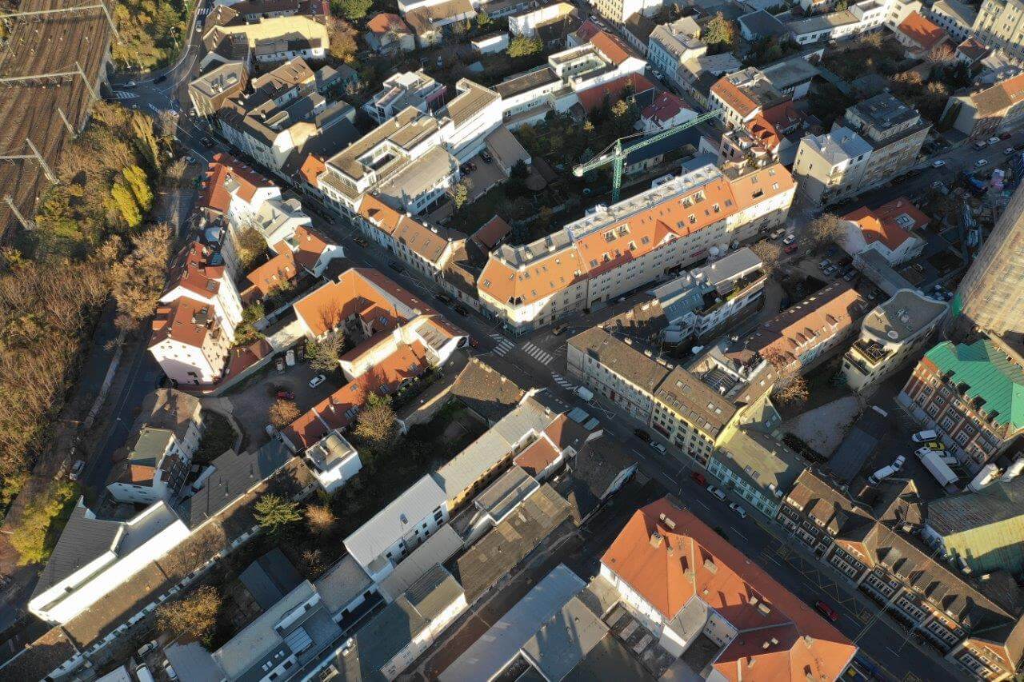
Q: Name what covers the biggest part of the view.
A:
buildings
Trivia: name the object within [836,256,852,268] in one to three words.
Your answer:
vehicle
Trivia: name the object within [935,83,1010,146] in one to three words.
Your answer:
house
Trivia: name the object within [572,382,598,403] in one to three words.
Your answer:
vehicle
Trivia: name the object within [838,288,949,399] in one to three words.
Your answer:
building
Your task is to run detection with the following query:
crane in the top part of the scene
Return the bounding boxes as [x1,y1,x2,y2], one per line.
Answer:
[568,108,722,208]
